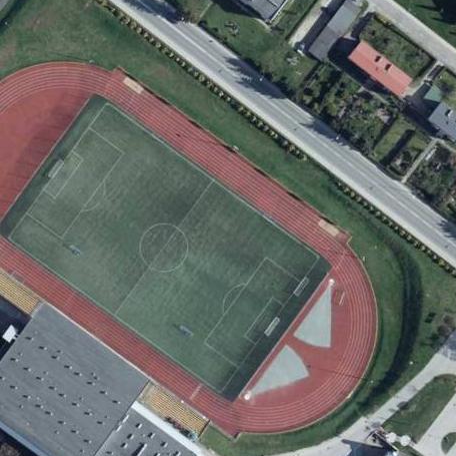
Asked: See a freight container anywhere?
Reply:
No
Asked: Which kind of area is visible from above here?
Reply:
sports ground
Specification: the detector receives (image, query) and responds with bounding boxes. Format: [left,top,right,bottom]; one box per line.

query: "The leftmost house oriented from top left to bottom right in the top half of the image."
[348,40,412,97]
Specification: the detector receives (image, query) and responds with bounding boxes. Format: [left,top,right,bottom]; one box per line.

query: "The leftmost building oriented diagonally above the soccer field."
[307,0,363,61]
